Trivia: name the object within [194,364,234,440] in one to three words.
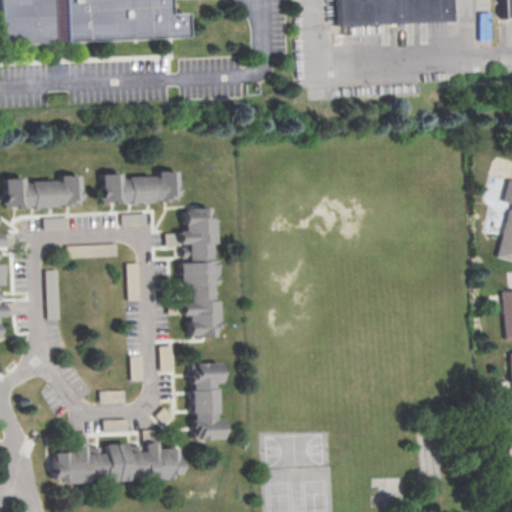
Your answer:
building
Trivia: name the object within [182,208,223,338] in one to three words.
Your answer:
building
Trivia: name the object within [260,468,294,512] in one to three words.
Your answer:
tennis court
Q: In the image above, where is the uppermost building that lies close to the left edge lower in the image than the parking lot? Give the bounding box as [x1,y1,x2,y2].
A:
[6,175,87,210]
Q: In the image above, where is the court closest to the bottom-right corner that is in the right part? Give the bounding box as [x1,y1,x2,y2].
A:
[294,466,331,512]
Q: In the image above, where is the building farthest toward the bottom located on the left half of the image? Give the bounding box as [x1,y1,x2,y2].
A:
[56,442,189,484]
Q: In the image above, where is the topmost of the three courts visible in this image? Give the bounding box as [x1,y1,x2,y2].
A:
[259,432,329,468]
